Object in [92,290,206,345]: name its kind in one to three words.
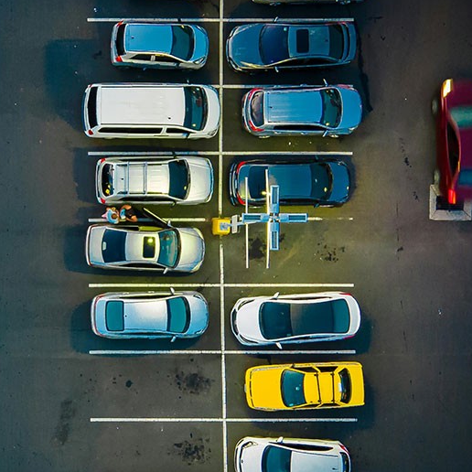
car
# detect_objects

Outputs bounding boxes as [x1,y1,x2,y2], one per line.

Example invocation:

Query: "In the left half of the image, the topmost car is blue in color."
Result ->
[113,18,206,70]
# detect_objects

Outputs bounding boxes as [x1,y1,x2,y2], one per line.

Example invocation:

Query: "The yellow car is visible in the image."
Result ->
[248,359,364,416]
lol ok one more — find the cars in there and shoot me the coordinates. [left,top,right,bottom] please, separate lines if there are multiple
[237,436,350,472]
[248,359,364,416]
[232,154,349,211]
[92,290,206,345]
[433,79,472,202]
[97,151,212,208]
[87,215,203,277]
[233,291,360,351]
[245,78,362,138]
[113,18,206,70]
[228,16,358,72]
